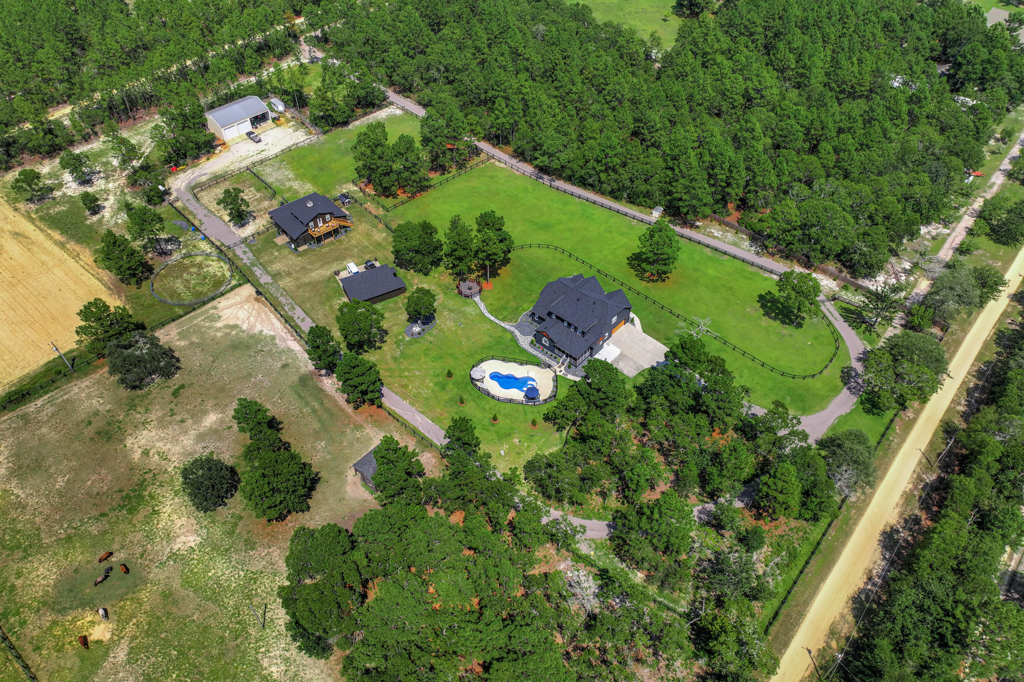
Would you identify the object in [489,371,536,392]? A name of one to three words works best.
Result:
swimming pool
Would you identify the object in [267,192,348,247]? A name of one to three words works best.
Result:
barn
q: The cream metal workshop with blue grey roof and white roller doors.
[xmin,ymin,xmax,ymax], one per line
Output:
[201,96,271,140]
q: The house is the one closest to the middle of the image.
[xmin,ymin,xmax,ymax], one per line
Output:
[530,273,635,368]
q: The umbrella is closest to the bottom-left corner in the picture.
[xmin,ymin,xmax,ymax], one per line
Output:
[468,366,487,385]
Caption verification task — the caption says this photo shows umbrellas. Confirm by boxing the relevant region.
[525,386,540,398]
[468,366,487,385]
